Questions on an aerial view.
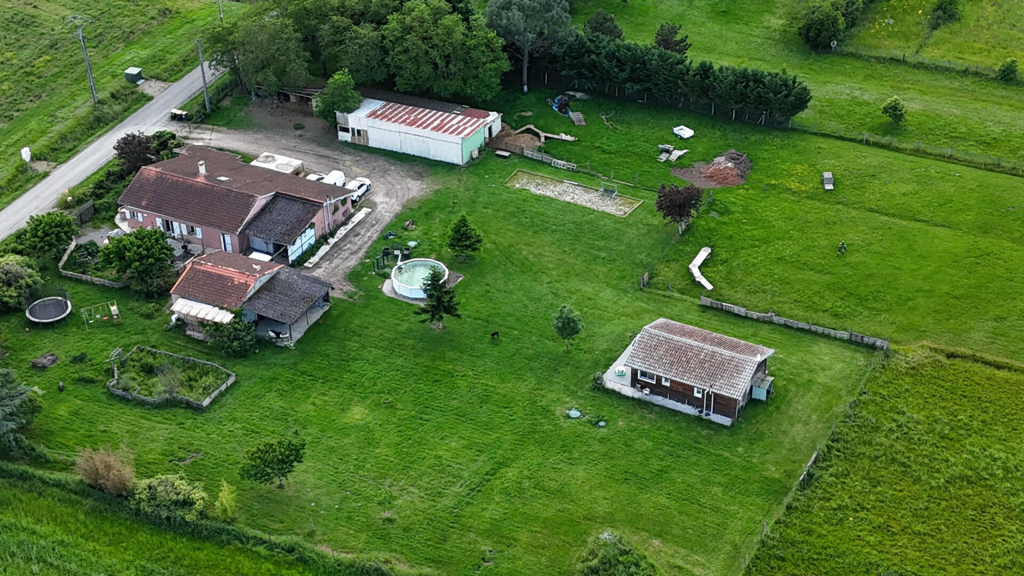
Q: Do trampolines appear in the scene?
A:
Yes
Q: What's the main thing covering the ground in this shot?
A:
grass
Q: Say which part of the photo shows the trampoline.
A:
left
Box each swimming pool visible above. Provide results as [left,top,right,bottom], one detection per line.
[390,258,450,300]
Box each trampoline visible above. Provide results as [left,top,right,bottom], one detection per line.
[21,282,74,330]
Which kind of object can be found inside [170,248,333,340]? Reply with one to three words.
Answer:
shed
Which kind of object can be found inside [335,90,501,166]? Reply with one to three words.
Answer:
barn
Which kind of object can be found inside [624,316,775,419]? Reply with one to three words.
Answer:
building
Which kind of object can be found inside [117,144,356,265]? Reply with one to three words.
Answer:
house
